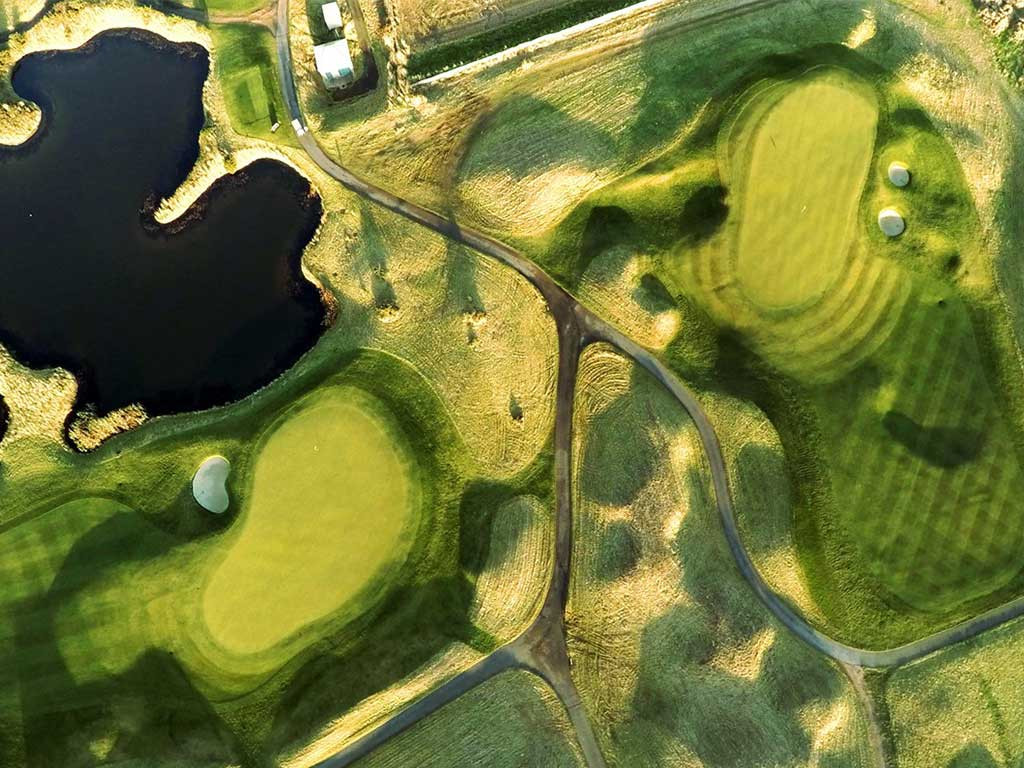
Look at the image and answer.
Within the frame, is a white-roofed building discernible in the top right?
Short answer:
No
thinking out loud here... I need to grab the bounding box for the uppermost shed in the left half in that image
[322,2,345,36]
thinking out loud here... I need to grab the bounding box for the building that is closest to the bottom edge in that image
[315,39,355,79]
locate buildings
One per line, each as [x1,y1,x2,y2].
[322,2,345,36]
[315,39,355,79]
